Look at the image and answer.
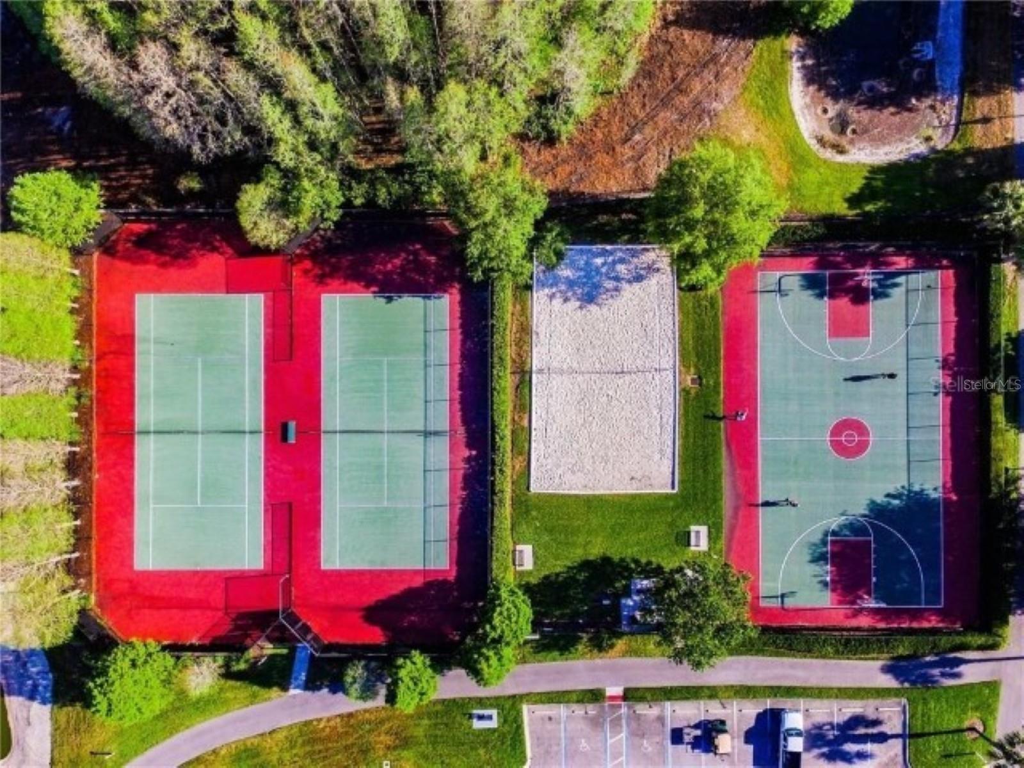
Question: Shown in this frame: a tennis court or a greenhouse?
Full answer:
It is a tennis court that can be seen here.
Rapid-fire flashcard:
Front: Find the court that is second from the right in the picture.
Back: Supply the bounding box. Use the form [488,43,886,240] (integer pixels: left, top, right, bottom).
[529,244,678,494]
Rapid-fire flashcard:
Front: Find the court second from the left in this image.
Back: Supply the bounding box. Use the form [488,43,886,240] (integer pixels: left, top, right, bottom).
[291,221,491,643]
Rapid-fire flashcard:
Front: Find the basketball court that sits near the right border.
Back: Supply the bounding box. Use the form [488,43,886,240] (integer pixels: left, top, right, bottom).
[723,252,974,626]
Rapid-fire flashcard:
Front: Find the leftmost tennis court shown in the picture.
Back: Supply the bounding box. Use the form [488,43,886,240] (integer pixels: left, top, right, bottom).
[93,221,291,643]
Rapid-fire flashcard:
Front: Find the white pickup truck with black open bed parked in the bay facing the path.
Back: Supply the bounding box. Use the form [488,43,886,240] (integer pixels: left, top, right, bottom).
[776,707,806,768]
